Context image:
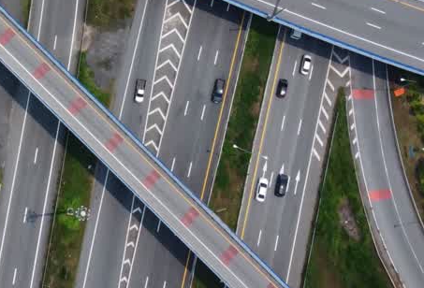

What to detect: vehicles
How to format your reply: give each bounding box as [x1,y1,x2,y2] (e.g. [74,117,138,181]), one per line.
[255,177,269,203]
[300,53,313,76]
[212,76,227,103]
[290,32,301,46]
[275,76,288,101]
[134,76,148,104]
[275,172,290,198]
